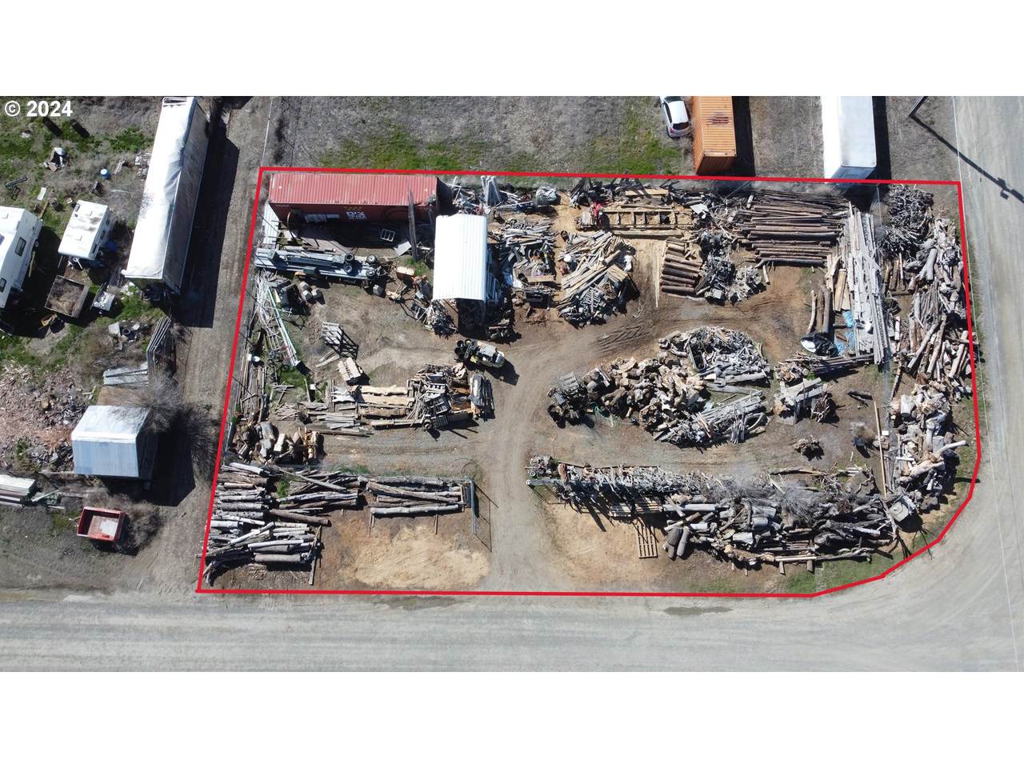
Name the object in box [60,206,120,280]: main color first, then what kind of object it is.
white vehicle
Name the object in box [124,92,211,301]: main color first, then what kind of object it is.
white trailer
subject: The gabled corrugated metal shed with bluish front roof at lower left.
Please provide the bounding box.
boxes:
[68,402,166,482]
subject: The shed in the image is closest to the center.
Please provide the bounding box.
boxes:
[433,214,489,313]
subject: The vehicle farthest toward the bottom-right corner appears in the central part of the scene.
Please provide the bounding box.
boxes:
[554,371,591,412]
